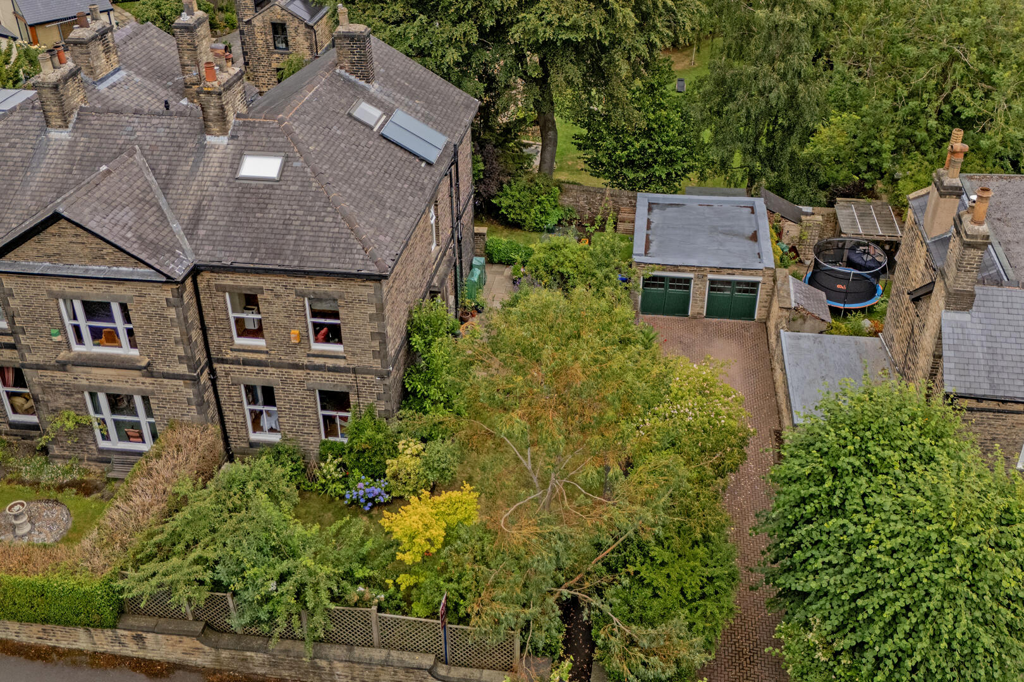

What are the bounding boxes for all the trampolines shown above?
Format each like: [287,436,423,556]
[808,239,886,324]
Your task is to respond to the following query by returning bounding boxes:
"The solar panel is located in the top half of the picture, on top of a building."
[380,104,451,164]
